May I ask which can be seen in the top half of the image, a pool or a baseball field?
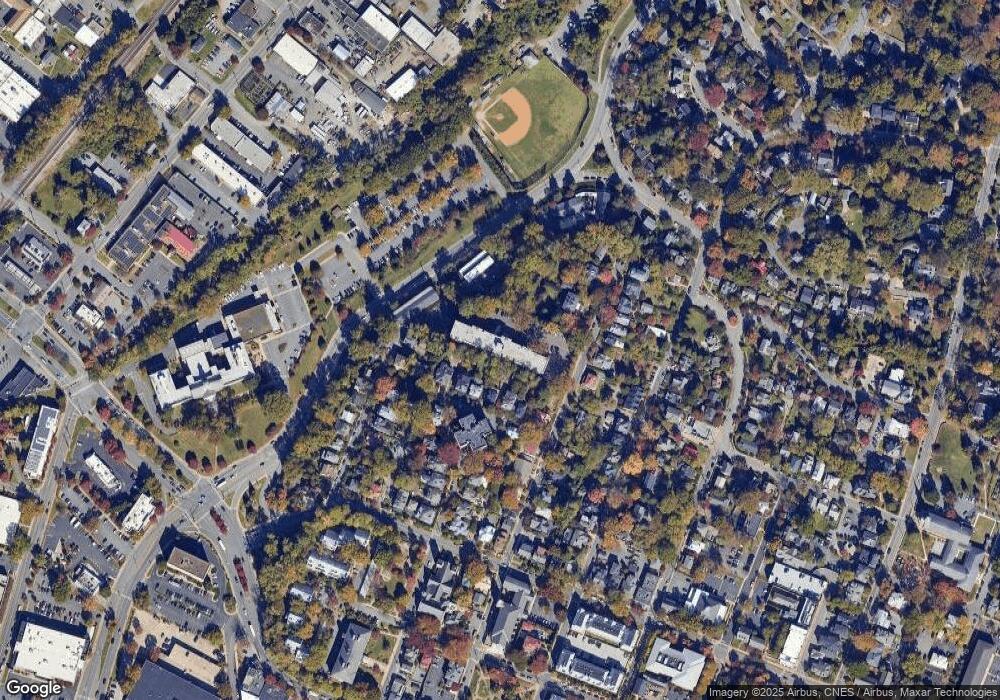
baseball field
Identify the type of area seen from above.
residential area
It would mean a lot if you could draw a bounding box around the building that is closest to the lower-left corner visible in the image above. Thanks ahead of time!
[15,622,87,686]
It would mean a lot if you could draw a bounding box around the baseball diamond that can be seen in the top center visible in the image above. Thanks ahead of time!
[474,58,588,182]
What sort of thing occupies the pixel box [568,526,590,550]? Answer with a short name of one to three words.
house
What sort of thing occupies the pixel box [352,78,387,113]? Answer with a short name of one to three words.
hangar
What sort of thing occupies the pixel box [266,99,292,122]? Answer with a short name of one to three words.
shed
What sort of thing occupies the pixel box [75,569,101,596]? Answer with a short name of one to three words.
building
